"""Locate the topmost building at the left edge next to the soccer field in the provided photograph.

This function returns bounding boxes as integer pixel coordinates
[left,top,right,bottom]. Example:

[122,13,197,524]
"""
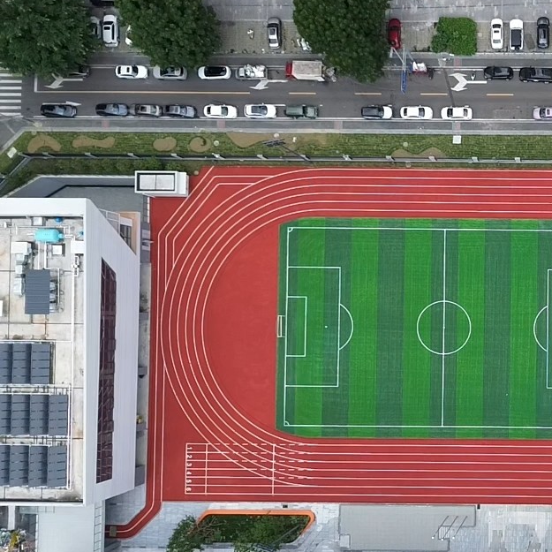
[0,199,144,505]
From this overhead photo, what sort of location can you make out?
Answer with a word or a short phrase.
sports ground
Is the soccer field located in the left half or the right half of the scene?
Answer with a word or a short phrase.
right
